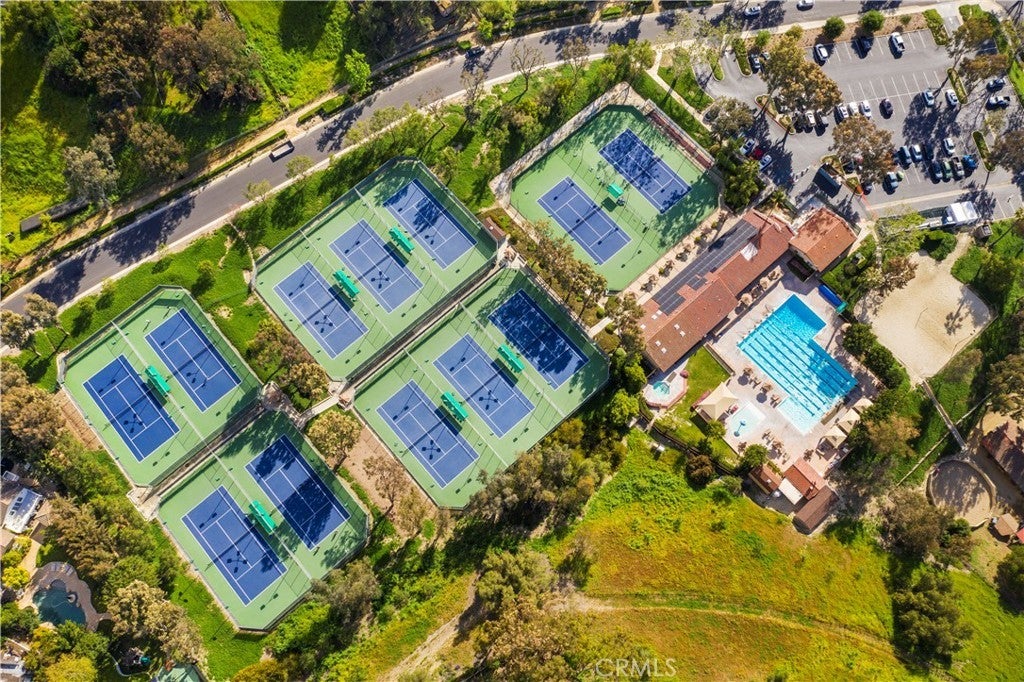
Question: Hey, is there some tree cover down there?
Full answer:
Yes, some tree cover is visible.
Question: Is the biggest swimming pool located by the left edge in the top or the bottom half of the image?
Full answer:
The bottom half of the photo is where the biggest swimming pool located by the left edge is.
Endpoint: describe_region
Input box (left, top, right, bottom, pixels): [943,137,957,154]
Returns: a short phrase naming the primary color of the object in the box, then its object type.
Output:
white car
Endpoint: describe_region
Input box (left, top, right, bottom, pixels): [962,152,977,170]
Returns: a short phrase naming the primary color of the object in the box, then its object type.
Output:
blue car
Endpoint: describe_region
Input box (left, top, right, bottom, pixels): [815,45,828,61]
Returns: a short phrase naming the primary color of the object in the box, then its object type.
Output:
white vehicle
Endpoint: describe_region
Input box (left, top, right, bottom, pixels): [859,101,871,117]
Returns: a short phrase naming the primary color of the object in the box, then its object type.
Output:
white vehicle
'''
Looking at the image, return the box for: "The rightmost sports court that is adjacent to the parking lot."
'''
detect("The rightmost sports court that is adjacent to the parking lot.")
[855,229,995,389]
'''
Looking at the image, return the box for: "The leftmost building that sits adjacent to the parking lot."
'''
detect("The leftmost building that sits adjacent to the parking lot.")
[622,206,795,370]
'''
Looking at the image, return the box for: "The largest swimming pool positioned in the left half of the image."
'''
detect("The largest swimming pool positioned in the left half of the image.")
[31,577,88,630]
